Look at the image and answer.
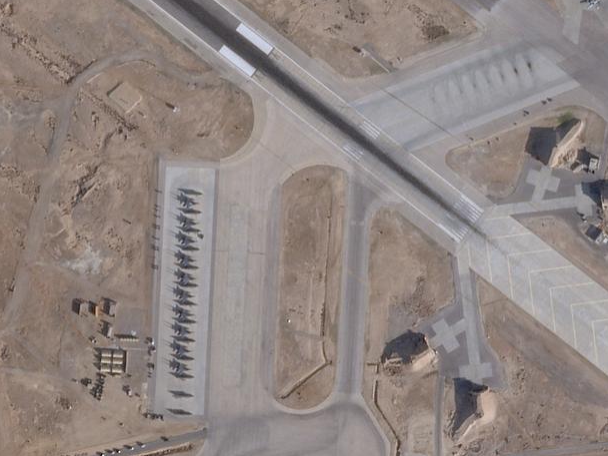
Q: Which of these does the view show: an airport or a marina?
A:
airport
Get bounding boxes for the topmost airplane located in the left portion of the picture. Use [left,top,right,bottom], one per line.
[182,194,201,207]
